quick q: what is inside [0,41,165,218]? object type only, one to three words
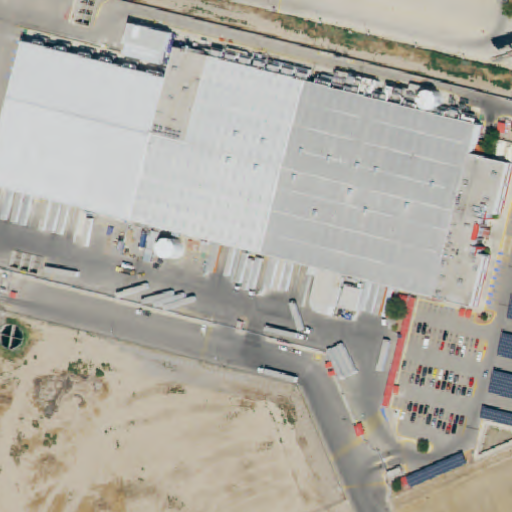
building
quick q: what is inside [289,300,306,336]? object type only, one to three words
vehicle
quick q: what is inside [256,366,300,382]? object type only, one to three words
vehicle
